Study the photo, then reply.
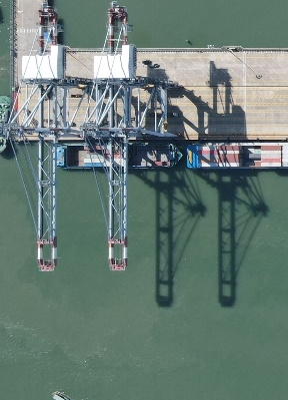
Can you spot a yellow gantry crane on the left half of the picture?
No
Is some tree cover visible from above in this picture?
No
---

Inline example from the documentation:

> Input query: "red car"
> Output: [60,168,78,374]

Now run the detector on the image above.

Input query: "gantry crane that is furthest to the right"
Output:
[75,1,180,273]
